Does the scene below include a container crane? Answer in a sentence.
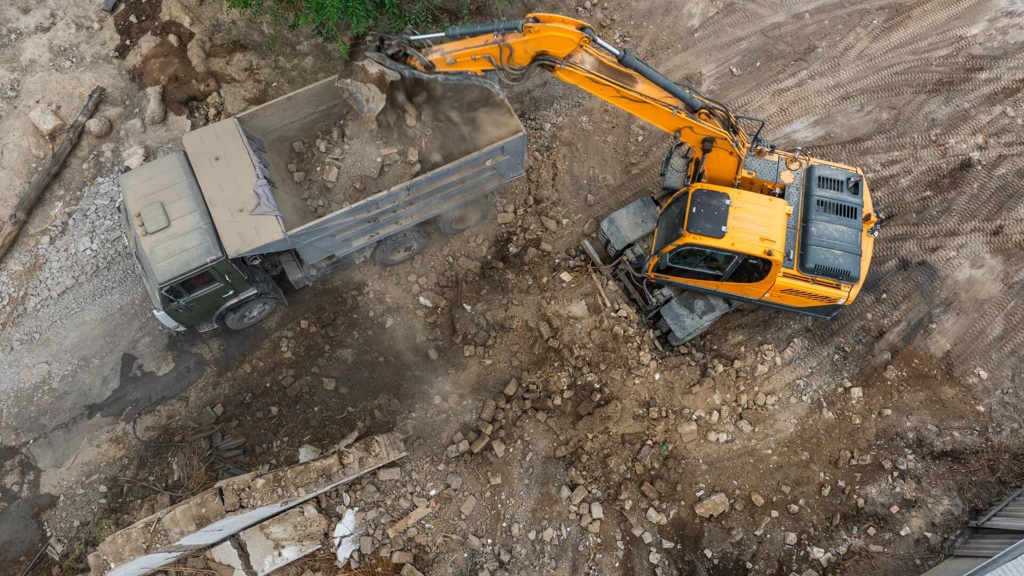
No, there's no container crane here.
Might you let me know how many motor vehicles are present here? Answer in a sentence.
The photo contains 2 motor vehicles.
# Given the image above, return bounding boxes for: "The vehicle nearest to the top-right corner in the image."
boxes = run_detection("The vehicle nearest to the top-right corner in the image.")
[340,4,895,351]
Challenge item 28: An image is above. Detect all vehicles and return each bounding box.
[340,4,895,351]
[108,69,526,346]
